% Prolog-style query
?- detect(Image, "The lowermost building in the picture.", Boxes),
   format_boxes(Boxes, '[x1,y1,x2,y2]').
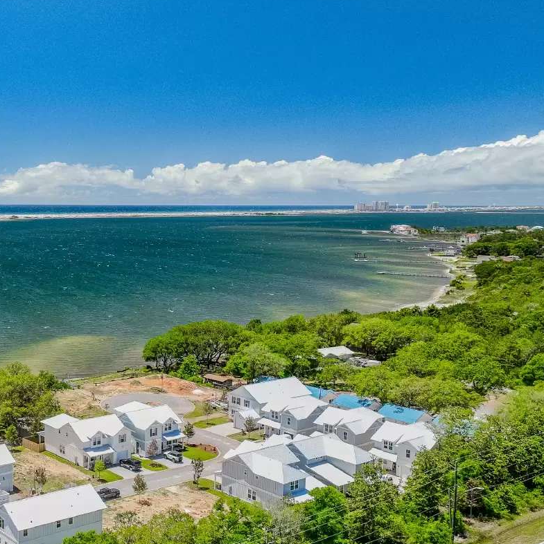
[0,482,107,544]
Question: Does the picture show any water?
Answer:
Yes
